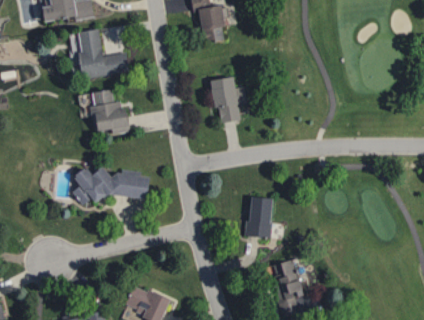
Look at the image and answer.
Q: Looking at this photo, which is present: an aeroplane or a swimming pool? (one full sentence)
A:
This aerial view contains a swimming pool.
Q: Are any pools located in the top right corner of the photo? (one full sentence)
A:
No, no pool appears in the top right corner of the photo.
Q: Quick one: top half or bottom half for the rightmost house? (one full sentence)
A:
It is in the bottom half that the rightmost house appears.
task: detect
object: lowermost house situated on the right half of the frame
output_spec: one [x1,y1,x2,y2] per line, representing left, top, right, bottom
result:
[273,260,304,311]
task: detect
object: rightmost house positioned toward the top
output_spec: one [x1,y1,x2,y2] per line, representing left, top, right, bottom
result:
[209,76,243,124]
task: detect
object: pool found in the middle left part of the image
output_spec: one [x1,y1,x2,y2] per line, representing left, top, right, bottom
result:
[49,164,76,207]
